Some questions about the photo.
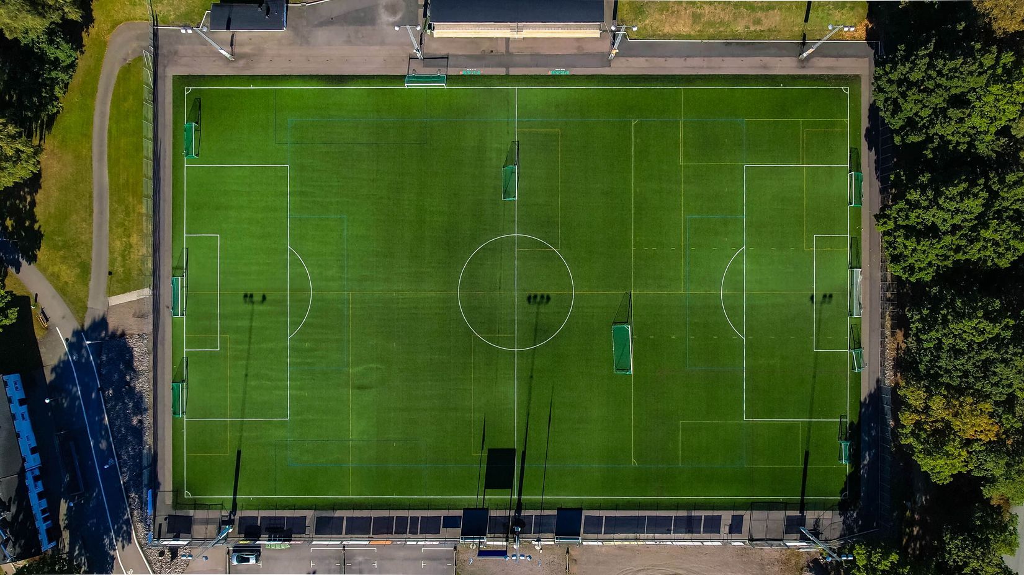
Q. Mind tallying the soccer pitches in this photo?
1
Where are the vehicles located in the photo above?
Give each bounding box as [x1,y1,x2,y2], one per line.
[230,552,261,566]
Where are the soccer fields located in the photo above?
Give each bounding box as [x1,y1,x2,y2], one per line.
[172,75,861,510]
